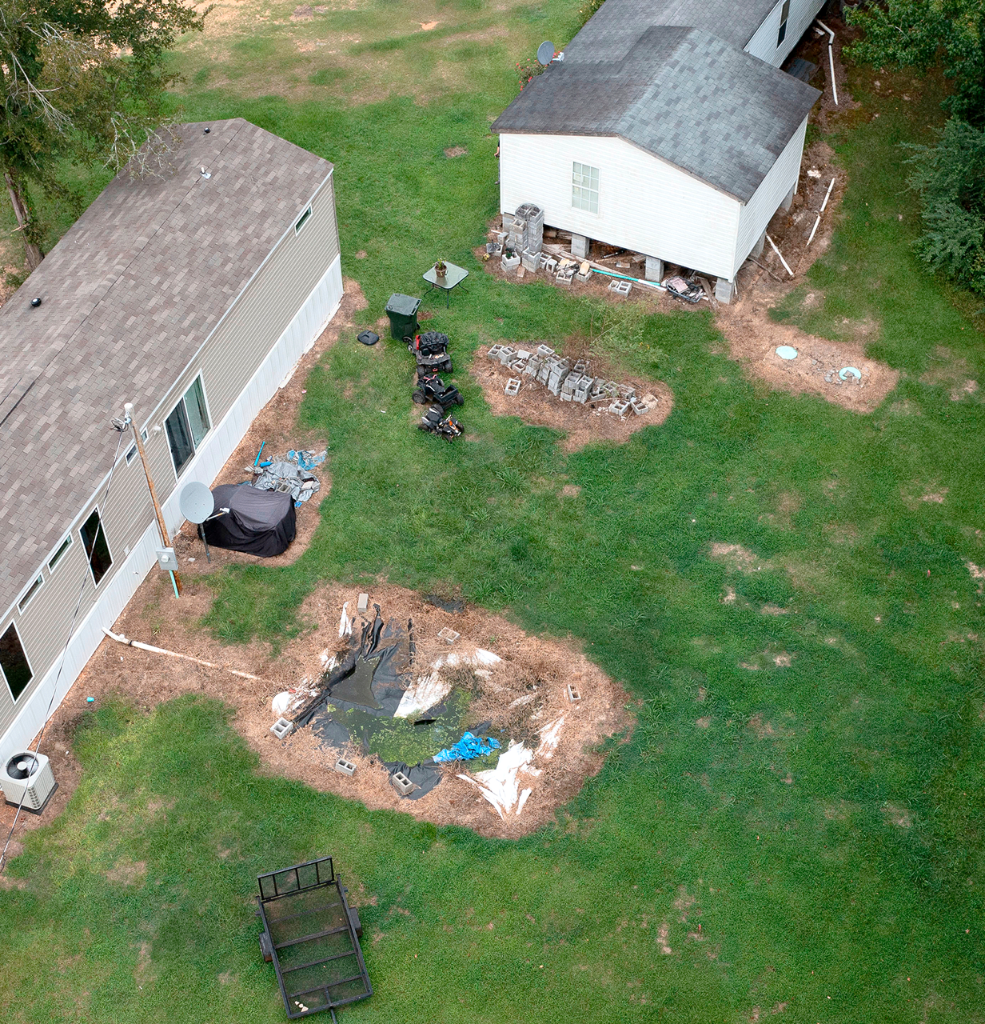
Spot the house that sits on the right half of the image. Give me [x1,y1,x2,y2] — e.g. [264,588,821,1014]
[489,0,829,284]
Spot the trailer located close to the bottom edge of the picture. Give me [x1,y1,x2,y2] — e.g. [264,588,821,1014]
[256,859,372,1024]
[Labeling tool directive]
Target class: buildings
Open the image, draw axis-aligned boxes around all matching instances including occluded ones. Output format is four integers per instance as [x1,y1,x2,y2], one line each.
[0,118,345,774]
[489,0,829,284]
